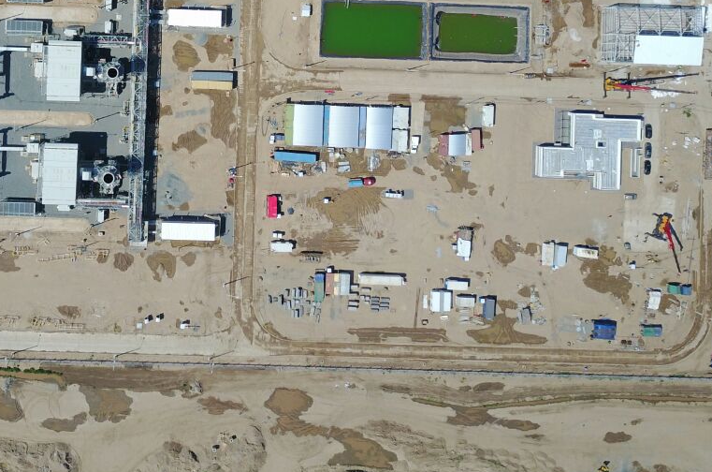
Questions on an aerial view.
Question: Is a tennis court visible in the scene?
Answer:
No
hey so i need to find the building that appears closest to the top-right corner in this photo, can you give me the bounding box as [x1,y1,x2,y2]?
[587,4,705,67]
